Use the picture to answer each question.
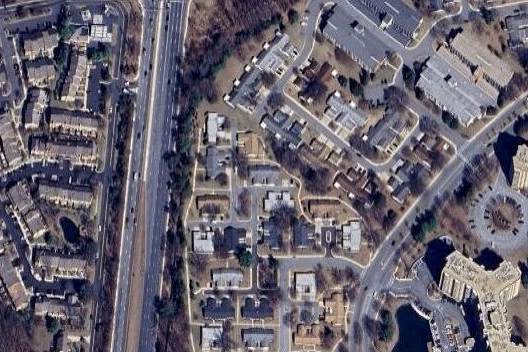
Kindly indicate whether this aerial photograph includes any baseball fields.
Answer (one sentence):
No, there isn't any baseball field down there.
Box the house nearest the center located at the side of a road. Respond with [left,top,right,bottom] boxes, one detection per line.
[248,169,280,187]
